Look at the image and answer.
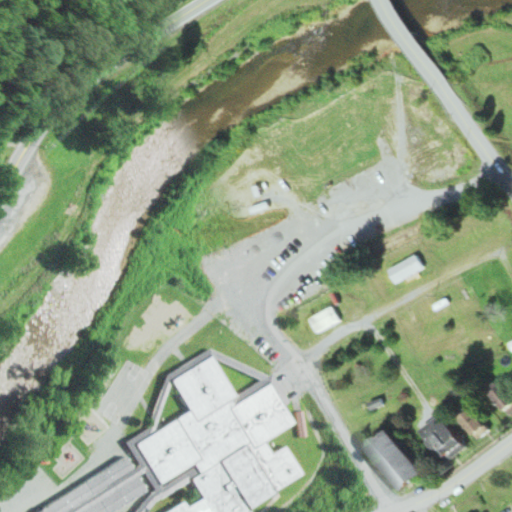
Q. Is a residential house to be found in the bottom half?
Yes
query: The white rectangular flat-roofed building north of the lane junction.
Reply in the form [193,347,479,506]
[307,306,342,335]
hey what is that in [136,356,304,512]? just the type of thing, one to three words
building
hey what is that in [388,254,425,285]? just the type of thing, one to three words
barn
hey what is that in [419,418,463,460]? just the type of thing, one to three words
house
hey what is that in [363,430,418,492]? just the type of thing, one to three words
building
